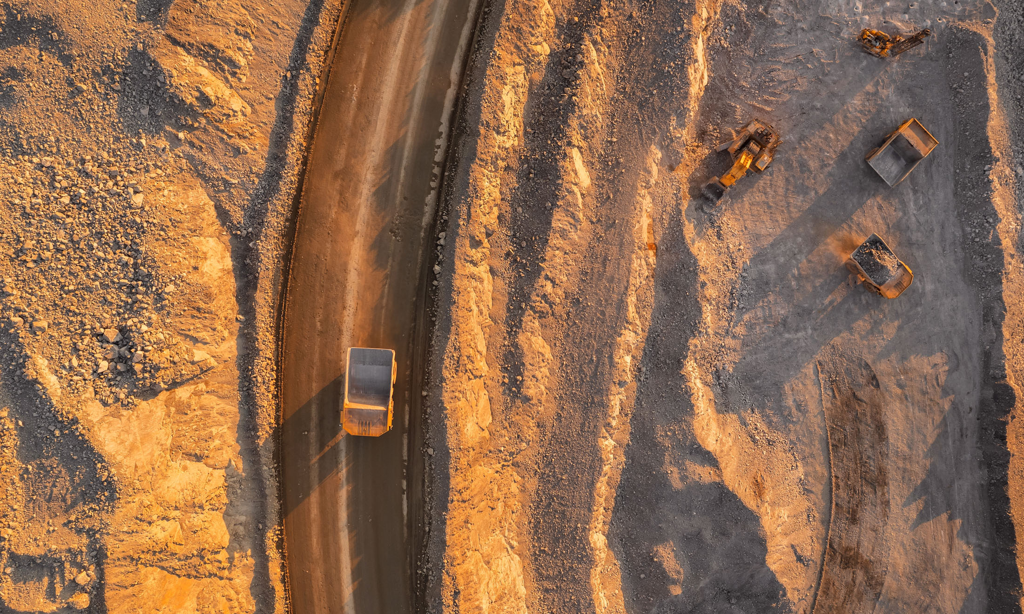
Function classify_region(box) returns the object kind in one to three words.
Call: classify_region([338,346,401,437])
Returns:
truck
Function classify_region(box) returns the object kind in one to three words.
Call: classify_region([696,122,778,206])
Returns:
work vehicle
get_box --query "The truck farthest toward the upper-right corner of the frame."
[863,117,939,187]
